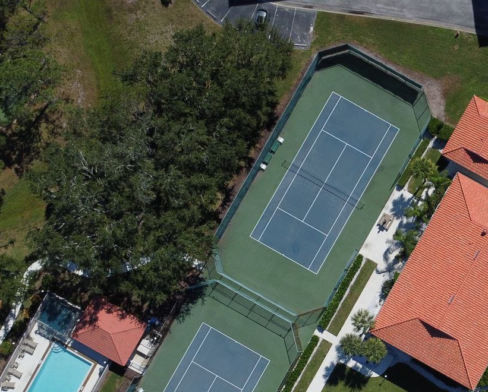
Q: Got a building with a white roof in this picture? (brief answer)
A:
No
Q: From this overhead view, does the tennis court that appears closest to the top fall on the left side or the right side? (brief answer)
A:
right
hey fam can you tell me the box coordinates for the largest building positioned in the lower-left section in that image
[71,302,149,366]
